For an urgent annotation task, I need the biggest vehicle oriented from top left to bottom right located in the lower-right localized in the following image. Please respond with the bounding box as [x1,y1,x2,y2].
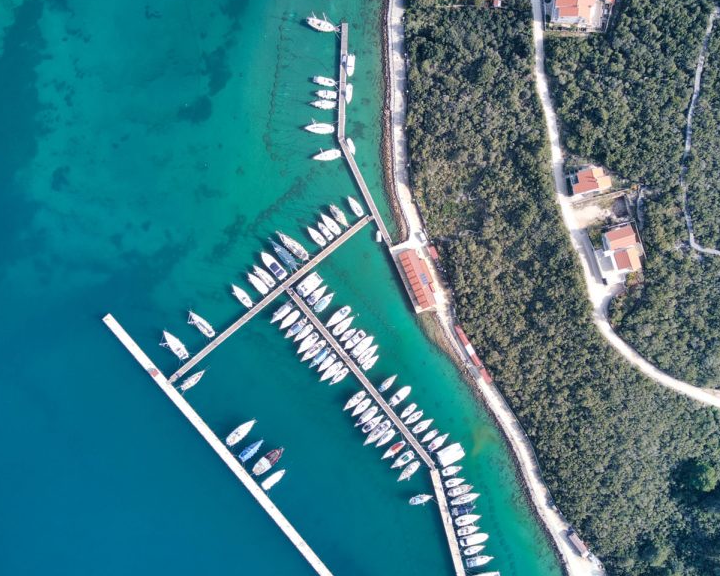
[570,533,589,559]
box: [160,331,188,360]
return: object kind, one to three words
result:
boat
